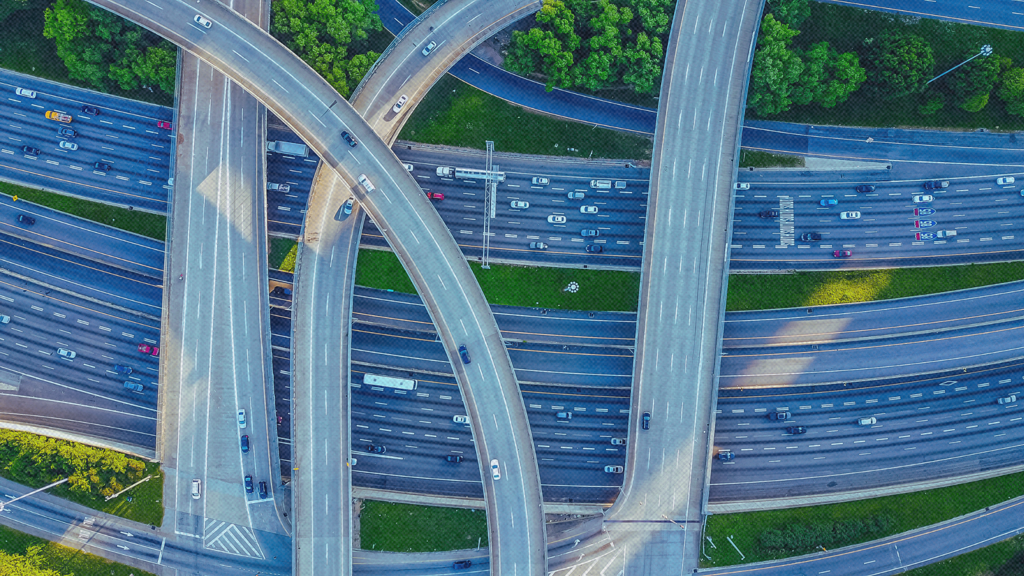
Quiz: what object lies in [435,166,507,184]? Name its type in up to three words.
vehicle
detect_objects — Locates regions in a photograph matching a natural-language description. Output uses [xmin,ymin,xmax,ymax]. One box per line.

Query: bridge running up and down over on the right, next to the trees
[603,0,765,522]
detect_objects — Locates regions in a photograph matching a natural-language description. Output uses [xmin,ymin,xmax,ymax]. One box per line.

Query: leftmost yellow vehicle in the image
[44,109,73,124]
